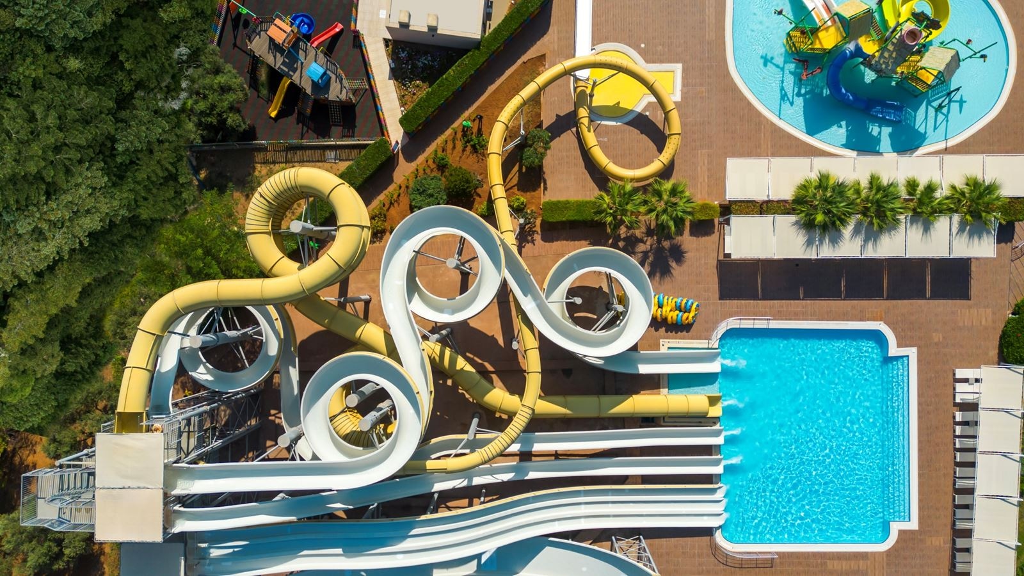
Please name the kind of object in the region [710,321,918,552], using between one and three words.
swimming pool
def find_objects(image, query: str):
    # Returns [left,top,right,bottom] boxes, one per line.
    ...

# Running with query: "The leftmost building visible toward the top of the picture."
[384,0,493,52]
